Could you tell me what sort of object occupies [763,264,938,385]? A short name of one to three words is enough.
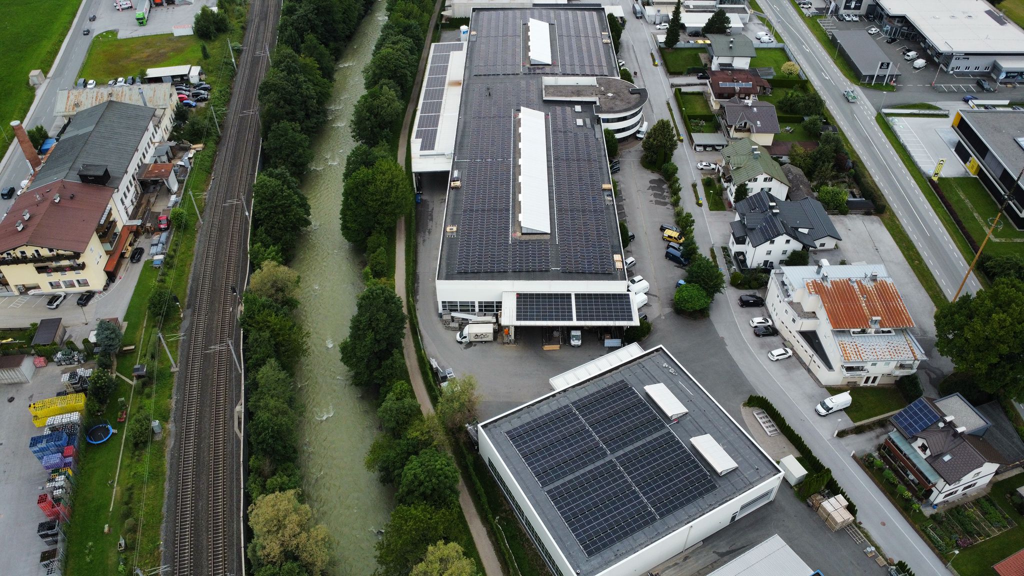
building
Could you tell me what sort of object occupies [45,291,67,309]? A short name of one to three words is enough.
car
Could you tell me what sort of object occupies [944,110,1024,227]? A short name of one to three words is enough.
building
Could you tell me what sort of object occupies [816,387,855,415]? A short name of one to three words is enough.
van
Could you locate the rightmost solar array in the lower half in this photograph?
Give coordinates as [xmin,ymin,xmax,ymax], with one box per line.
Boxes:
[895,401,946,445]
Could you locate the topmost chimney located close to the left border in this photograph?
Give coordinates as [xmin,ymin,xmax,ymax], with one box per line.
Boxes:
[7,115,45,172]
